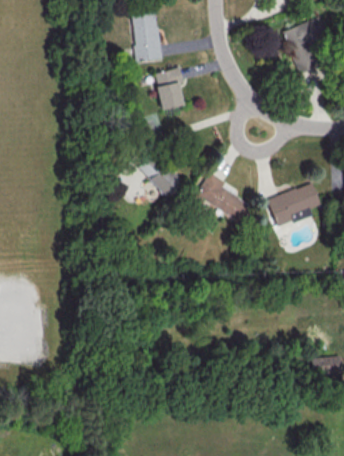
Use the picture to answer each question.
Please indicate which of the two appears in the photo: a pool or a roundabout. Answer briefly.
pool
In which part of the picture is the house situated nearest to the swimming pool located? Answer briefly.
right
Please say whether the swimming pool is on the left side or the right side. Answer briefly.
right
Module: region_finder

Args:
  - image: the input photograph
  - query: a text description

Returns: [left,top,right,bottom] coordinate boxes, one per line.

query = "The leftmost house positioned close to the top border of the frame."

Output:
[132,14,163,64]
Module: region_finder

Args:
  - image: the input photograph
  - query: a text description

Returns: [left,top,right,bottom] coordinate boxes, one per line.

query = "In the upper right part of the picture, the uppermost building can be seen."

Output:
[282,16,321,70]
